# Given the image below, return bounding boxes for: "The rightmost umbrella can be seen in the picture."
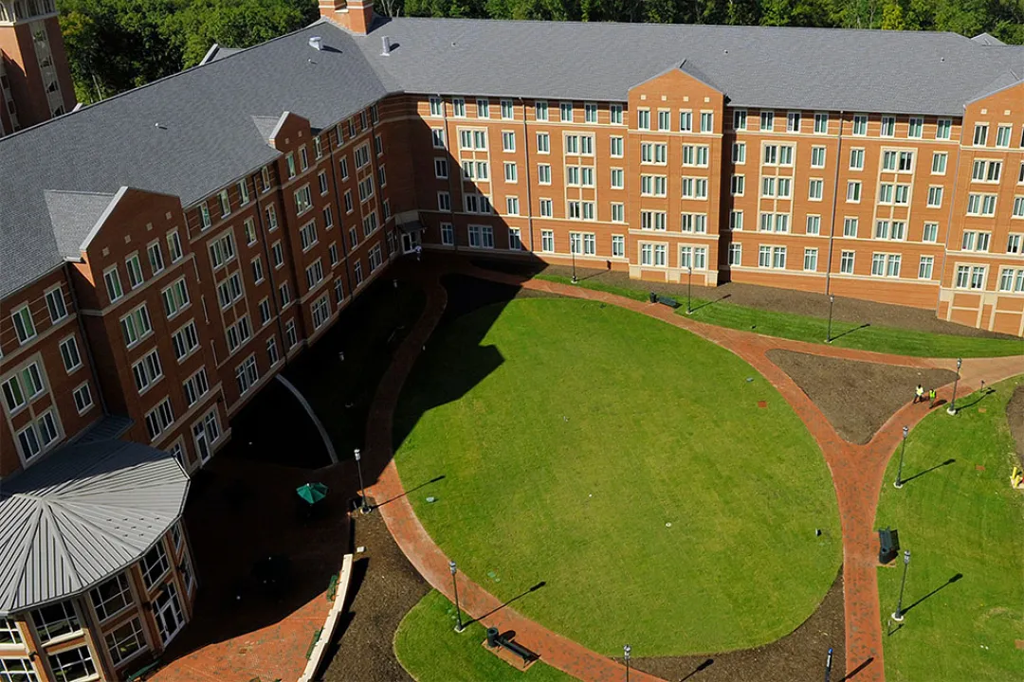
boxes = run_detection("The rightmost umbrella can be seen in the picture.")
[289,479,324,507]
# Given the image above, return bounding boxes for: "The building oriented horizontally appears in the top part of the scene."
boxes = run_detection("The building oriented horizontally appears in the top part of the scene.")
[0,0,1024,480]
